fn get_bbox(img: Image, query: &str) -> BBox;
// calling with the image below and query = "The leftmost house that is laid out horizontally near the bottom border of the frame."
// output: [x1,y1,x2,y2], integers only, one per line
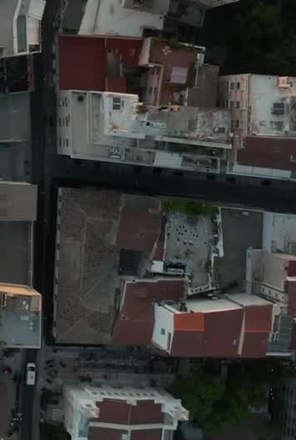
[58,379,190,440]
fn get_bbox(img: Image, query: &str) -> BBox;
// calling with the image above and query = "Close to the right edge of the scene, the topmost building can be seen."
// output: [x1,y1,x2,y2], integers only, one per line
[218,74,296,137]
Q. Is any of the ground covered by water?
No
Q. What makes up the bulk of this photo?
buildings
